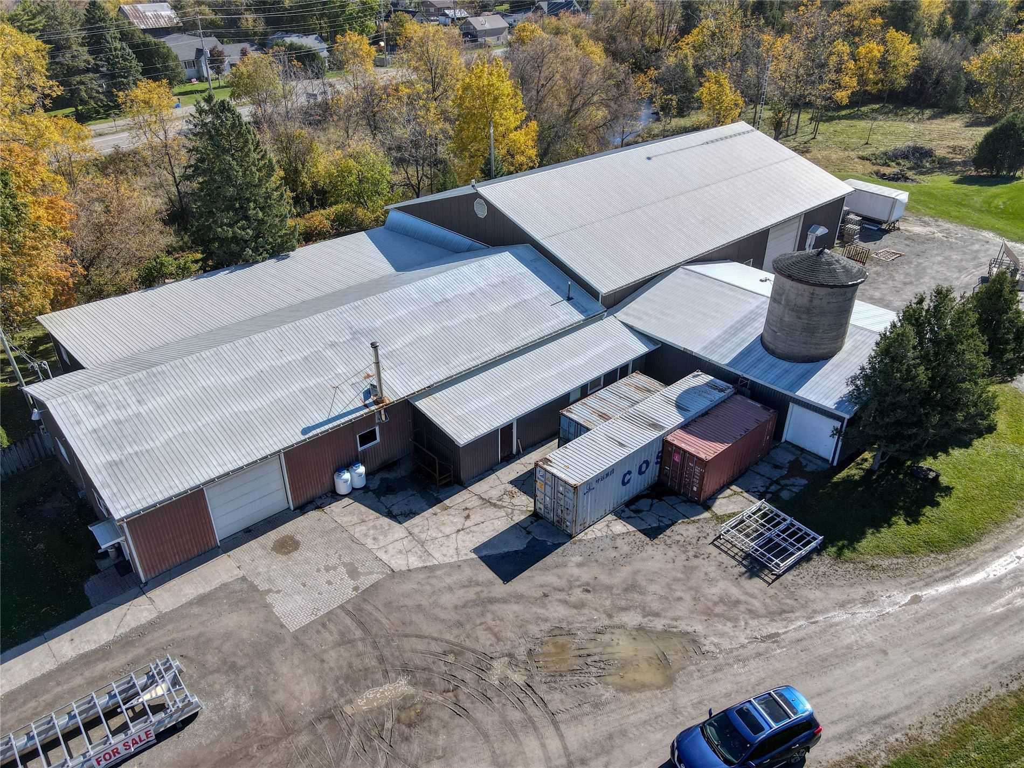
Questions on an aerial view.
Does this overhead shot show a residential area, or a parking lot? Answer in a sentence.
This looks like a residential area.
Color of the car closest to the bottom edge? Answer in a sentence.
The car closest to the bottom edge looks blue in the image.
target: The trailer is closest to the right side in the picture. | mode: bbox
[837,178,912,241]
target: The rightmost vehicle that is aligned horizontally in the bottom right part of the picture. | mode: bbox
[668,691,828,768]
